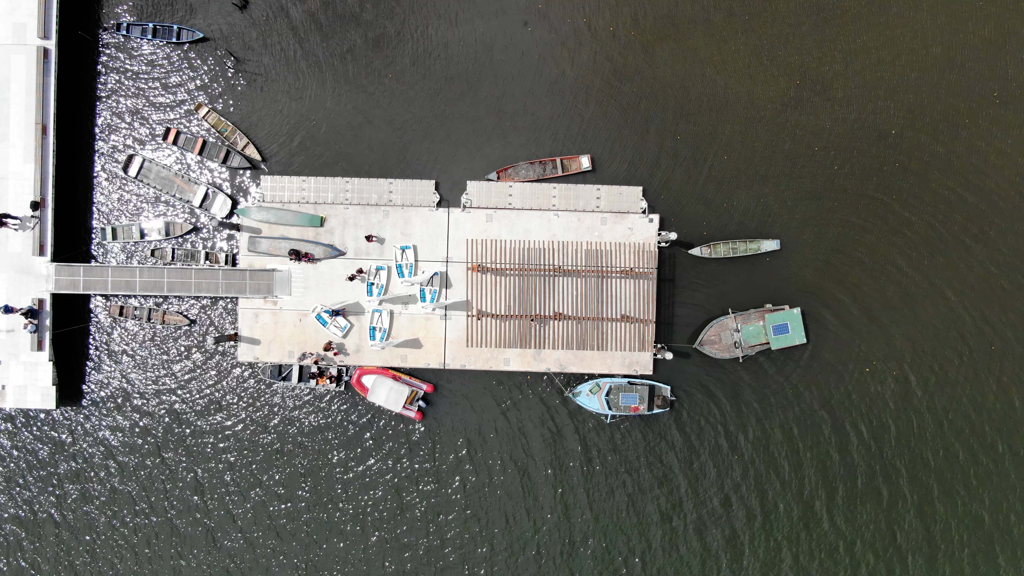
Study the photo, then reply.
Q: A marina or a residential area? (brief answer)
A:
marina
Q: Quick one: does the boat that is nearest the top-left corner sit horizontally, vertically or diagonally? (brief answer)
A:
horizontally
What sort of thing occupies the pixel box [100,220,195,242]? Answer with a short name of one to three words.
boat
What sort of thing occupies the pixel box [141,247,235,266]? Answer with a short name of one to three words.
boat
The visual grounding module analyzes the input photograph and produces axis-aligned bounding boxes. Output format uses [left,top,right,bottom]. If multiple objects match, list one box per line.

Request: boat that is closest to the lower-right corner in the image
[692,305,807,362]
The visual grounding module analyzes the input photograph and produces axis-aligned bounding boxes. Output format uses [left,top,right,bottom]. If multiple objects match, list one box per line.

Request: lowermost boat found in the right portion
[564,377,676,423]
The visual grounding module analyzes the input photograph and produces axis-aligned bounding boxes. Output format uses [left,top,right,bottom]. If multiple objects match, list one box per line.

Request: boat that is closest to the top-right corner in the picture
[688,239,781,258]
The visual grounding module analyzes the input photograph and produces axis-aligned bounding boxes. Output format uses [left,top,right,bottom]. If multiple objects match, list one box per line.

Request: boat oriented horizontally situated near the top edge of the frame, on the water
[115,22,204,42]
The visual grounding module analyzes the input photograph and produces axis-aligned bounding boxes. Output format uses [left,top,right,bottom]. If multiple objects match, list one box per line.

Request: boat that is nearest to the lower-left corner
[108,304,191,327]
